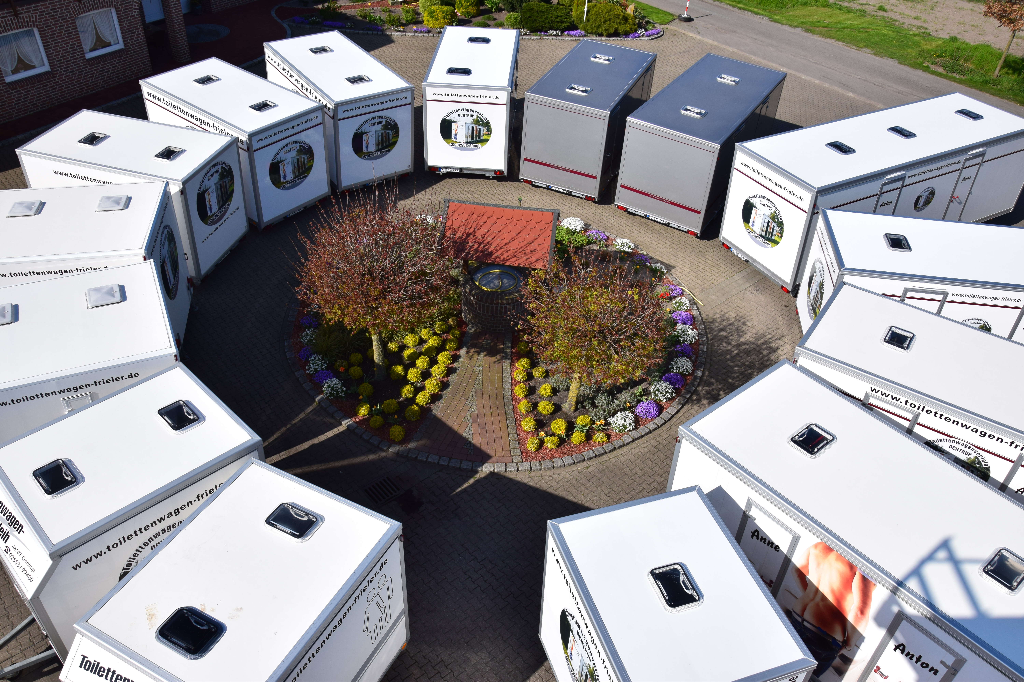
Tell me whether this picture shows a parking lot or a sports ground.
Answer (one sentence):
It's a parking lot.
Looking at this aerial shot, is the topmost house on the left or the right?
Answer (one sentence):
The topmost house is on the left side of the image.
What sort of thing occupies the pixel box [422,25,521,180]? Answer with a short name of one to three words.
trailer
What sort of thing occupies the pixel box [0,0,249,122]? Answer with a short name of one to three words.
house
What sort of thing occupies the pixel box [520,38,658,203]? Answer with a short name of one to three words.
trailer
